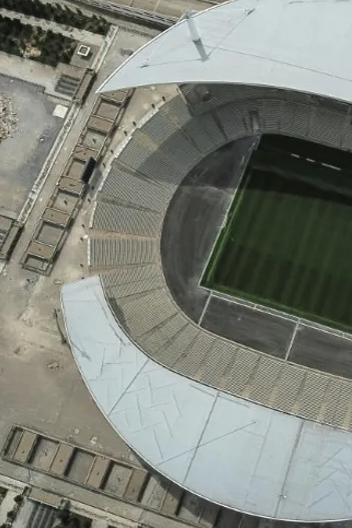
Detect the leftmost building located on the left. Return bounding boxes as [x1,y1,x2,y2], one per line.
[0,219,24,259]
